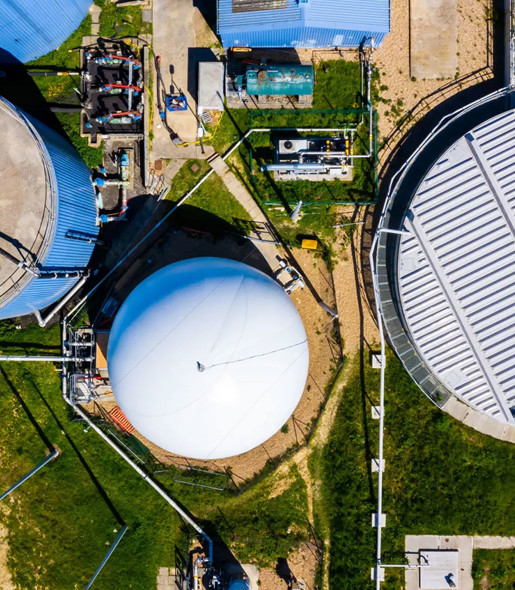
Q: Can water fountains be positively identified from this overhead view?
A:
No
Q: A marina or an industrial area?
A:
industrial area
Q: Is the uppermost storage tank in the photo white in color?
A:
No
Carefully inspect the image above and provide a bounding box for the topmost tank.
[0,0,93,67]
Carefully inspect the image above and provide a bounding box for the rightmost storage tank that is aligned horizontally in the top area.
[230,63,316,101]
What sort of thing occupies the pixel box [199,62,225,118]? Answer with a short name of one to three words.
shed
